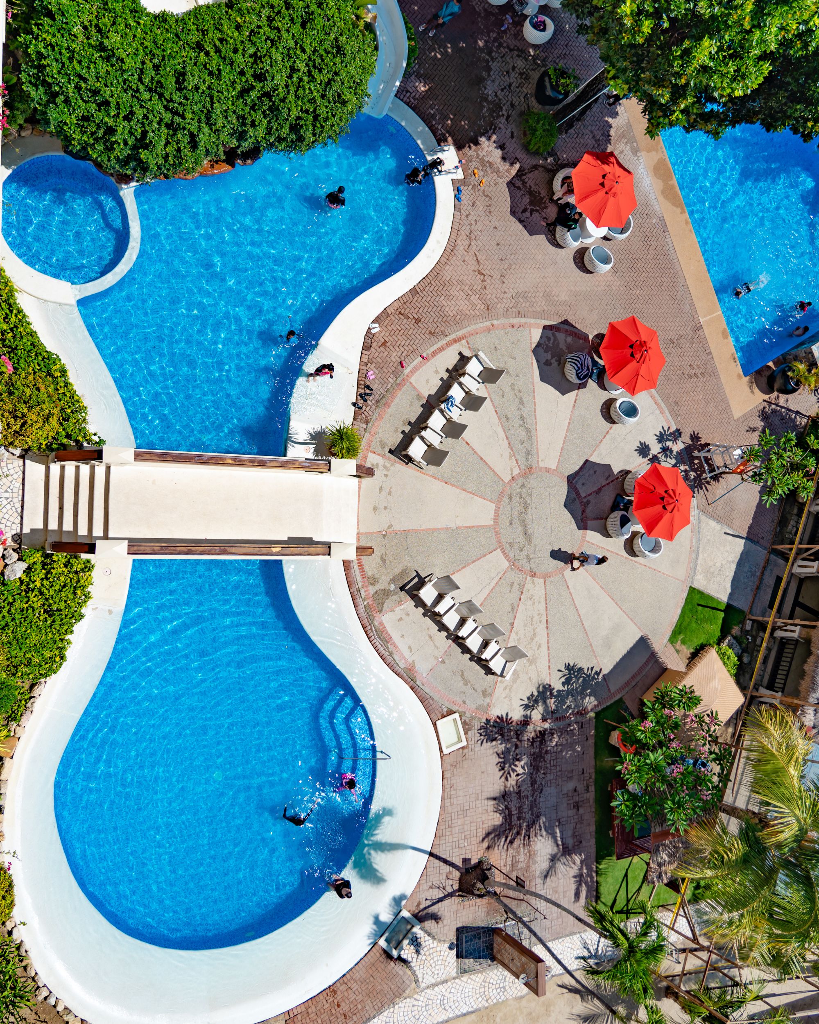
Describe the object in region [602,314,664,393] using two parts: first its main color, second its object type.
red umbrella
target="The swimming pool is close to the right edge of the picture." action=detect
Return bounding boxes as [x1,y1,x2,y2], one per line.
[625,16,819,375]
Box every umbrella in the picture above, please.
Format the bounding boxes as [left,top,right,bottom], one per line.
[602,314,664,393]
[570,153,635,232]
[632,463,693,541]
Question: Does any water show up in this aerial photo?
Yes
